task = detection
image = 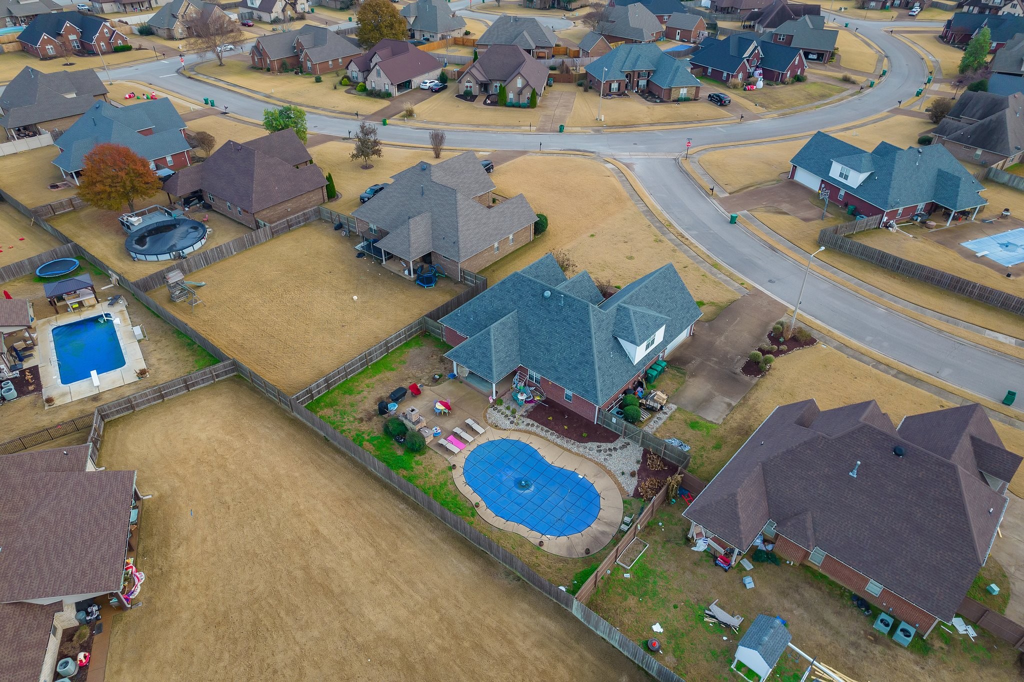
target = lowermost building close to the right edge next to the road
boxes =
[679,390,1024,638]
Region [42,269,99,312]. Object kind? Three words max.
gazebo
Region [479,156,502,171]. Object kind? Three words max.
car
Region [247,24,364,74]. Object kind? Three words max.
house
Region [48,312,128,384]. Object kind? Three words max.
swimming pool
